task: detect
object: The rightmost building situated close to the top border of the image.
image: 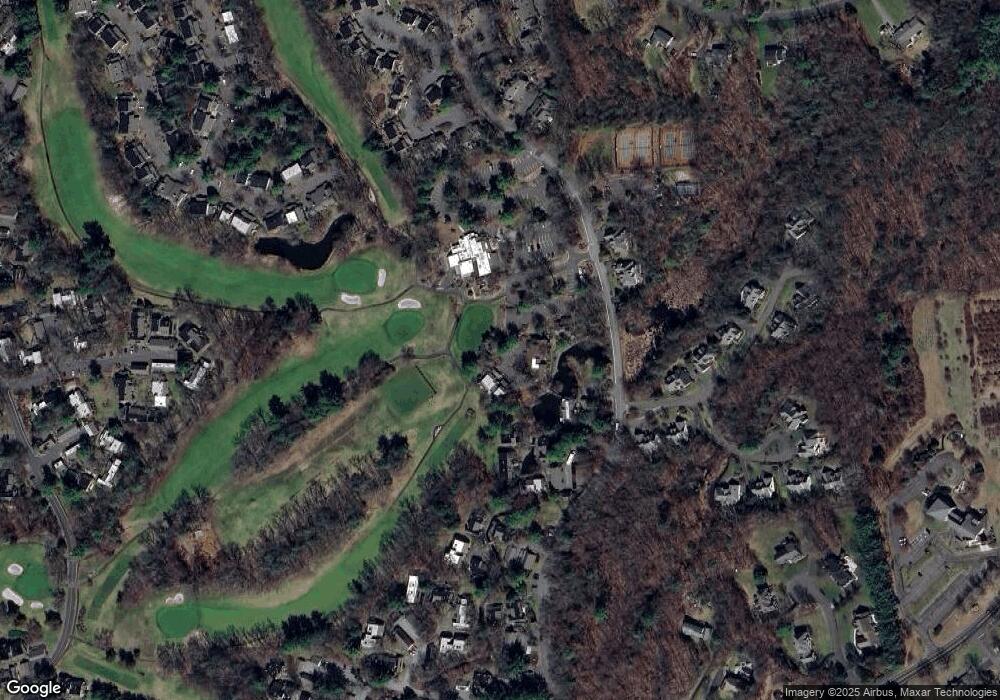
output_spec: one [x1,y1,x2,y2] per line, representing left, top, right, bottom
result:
[883,16,928,50]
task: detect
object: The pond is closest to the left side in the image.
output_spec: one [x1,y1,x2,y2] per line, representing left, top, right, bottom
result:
[256,214,355,268]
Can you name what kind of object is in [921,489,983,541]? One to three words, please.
building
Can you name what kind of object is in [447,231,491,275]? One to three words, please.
building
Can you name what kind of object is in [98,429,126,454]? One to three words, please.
house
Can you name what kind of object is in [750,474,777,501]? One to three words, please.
house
